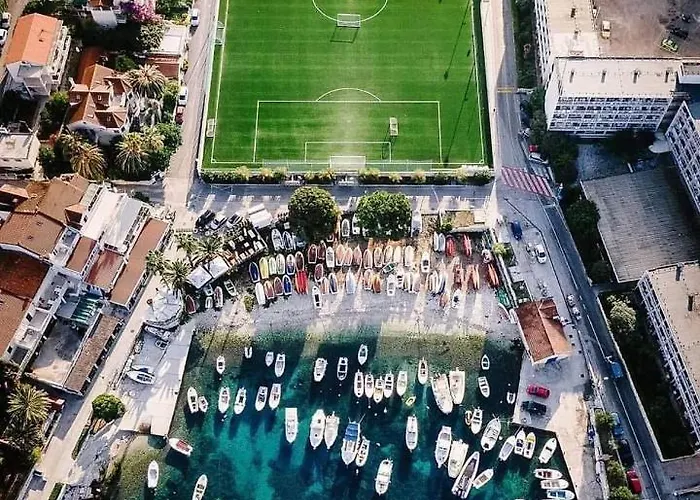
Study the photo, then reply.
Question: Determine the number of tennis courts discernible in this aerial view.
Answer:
0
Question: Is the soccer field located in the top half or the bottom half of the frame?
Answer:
top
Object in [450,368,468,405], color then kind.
white boat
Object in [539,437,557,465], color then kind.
white boat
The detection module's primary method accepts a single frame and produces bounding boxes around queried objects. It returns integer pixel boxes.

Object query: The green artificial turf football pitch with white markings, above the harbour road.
[197,0,488,170]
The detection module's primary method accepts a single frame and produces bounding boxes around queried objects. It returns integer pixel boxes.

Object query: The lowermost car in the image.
[625,469,644,496]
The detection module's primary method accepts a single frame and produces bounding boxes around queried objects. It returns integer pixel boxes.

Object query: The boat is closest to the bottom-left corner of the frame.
[146,449,159,491]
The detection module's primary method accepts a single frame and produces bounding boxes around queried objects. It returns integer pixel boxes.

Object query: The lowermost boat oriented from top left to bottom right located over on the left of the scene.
[168,437,195,458]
